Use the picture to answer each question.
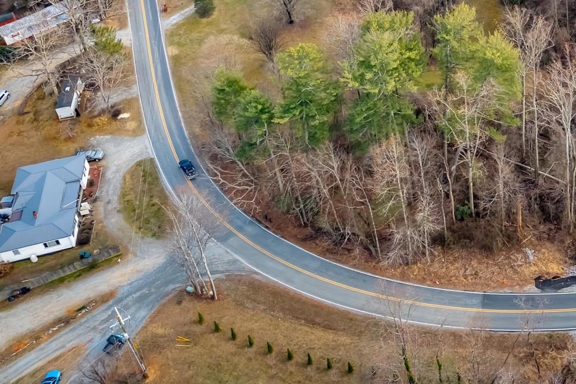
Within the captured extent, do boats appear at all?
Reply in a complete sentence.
No, I can see no boat in this picture.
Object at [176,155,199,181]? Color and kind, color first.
blue truck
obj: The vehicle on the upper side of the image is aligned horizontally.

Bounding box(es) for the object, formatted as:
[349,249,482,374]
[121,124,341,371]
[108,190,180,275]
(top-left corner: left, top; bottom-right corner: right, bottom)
[71,145,111,160]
